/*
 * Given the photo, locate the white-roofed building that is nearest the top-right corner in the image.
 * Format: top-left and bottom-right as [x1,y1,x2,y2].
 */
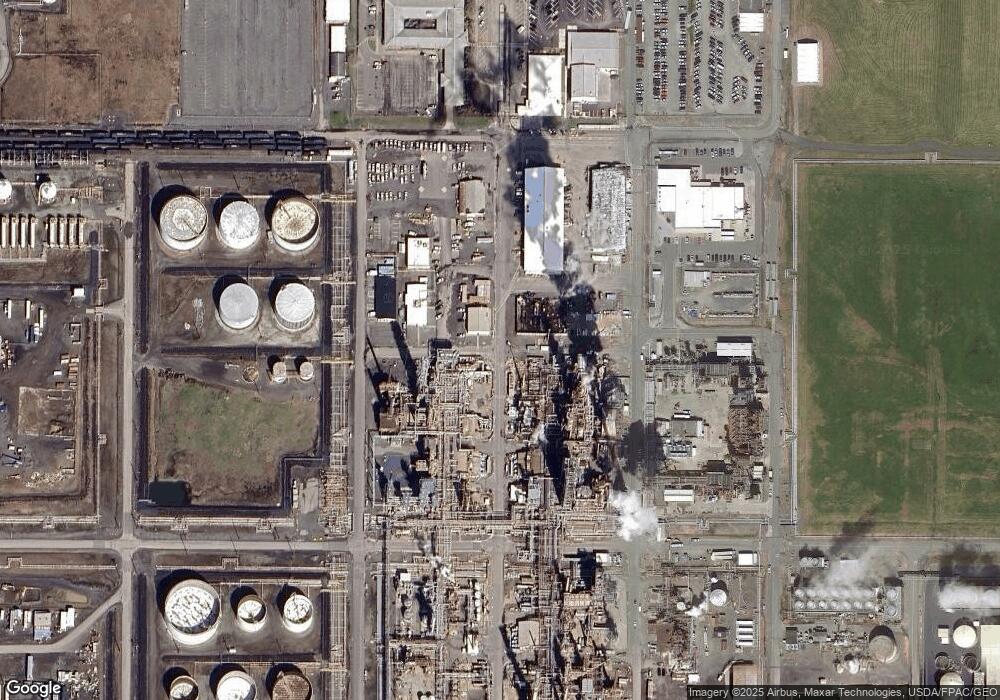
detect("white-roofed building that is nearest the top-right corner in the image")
[797,41,818,86]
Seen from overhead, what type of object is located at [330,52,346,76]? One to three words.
building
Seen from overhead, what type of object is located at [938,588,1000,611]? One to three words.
cooling tower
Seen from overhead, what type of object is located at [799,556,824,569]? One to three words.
cooling tower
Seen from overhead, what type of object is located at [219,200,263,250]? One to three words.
storage tank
